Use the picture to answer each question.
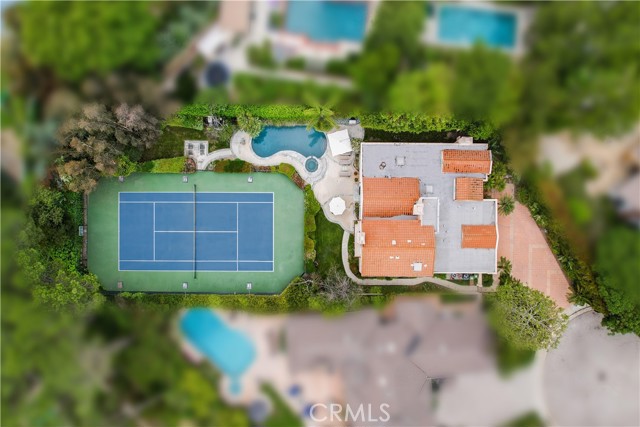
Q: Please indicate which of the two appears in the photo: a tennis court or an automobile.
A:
tennis court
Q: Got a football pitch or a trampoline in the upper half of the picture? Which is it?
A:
trampoline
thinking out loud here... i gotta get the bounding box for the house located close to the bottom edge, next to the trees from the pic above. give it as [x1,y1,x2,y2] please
[286,298,488,427]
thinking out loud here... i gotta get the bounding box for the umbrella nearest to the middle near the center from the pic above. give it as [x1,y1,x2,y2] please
[329,198,346,214]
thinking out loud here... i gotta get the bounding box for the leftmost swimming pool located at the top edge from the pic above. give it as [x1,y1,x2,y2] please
[284,0,370,43]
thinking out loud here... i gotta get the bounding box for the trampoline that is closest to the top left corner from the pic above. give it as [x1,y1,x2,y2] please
[201,59,226,85]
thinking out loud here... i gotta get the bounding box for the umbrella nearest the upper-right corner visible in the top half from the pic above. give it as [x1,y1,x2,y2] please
[328,126,352,157]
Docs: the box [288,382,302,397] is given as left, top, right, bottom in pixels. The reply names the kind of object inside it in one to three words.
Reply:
umbrella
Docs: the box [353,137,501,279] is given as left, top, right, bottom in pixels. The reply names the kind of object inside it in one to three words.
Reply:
house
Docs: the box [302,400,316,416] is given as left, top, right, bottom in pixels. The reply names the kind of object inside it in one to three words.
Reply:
umbrella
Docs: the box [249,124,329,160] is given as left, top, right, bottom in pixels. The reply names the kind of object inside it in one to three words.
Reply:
swimming pool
